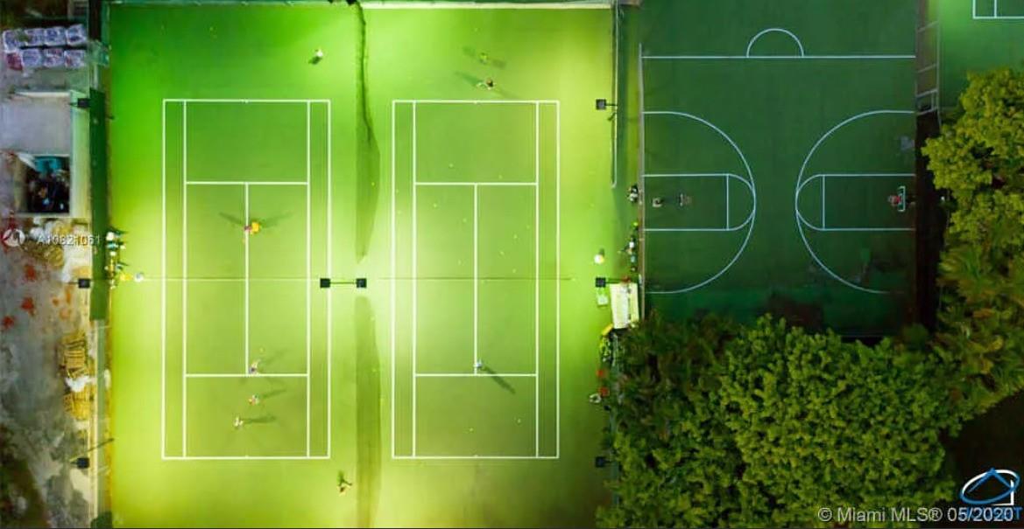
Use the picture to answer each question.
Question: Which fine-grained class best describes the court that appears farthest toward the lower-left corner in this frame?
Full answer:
What you see as the court that appears farthest toward the lower-left corner is a tennis court.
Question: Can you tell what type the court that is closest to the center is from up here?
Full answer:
What you see as the court that is closest to the center is a tennis court.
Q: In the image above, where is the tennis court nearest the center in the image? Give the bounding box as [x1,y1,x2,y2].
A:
[392,100,559,458]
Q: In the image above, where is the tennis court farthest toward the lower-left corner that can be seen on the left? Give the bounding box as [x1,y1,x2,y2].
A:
[163,99,330,458]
